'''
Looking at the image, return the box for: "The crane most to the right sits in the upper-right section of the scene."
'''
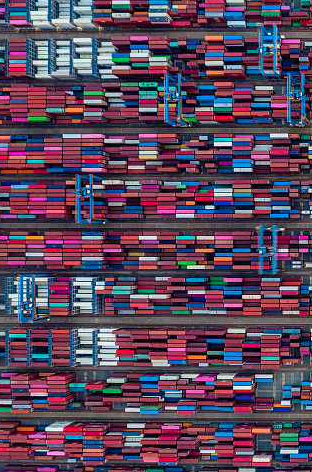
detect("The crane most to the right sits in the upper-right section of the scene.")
[282,73,311,126]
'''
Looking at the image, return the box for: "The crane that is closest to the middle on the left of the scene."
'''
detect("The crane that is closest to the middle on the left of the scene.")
[69,173,109,222]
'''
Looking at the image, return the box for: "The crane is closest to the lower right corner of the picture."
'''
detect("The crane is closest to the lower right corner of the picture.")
[253,227,284,275]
